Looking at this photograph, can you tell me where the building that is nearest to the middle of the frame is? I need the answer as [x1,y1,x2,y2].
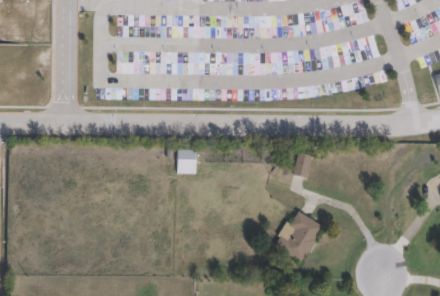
[176,150,198,175]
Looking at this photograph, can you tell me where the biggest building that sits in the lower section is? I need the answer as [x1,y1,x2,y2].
[277,212,320,259]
